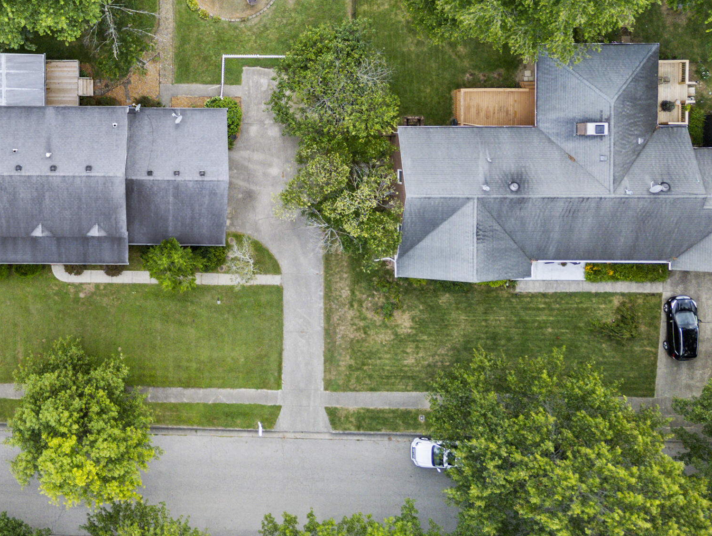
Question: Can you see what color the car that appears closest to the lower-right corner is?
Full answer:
The car that appears closest to the lower-right corner looks black in the image.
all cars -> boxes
[412,438,479,472]
[662,293,703,360]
